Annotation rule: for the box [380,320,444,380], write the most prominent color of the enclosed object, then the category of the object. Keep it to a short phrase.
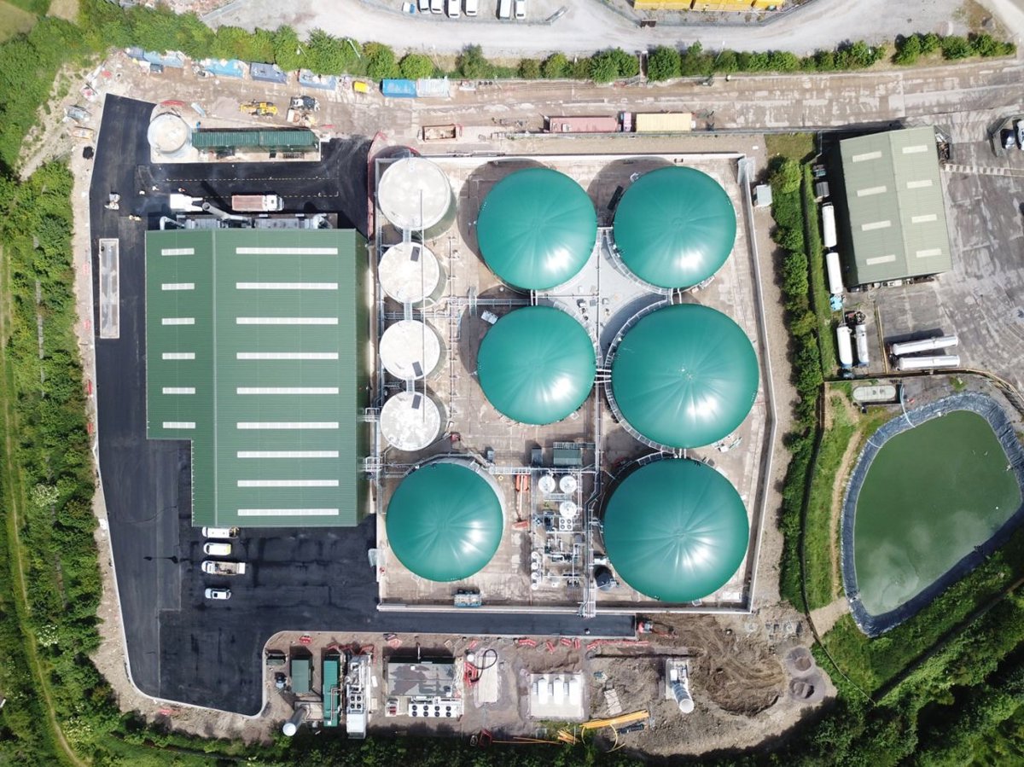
white storage tank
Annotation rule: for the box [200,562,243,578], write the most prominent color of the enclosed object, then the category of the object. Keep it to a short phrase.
white vehicle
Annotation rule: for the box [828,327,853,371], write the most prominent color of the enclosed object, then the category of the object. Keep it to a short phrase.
white trailer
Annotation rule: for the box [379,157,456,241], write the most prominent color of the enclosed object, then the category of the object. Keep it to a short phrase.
white storage tank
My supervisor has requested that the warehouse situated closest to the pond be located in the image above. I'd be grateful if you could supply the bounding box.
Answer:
[826,126,952,289]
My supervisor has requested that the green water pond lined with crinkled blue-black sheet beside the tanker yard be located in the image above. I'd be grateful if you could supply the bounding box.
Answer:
[838,389,1024,638]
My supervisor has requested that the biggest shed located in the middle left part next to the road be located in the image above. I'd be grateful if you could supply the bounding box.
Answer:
[145,228,367,528]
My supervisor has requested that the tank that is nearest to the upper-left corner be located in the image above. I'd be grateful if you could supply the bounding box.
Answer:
[147,111,201,164]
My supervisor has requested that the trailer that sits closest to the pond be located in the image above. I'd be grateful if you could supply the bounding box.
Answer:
[894,356,960,371]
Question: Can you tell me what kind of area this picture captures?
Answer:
industrial area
